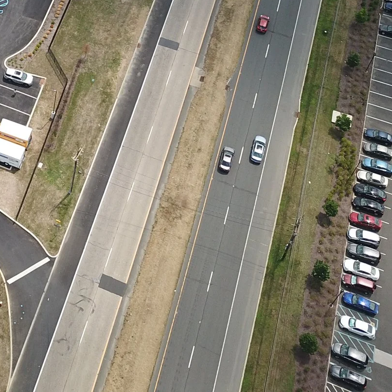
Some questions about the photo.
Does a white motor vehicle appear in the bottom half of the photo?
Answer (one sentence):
Yes, the scene does show a white motor vehicle in the bottom half of the photo.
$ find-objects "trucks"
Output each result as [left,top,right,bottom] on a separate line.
[0,118,33,151]
[0,138,26,170]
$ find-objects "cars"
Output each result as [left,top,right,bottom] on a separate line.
[340,273,377,298]
[378,26,392,38]
[337,317,375,342]
[362,143,392,163]
[362,129,392,148]
[356,171,388,190]
[382,5,392,15]
[343,260,379,283]
[255,15,270,36]
[341,292,379,318]
[328,366,367,392]
[249,135,267,164]
[346,245,381,267]
[348,229,379,249]
[350,197,385,219]
[331,344,369,371]
[361,158,392,178]
[4,68,32,88]
[347,213,382,234]
[353,184,387,206]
